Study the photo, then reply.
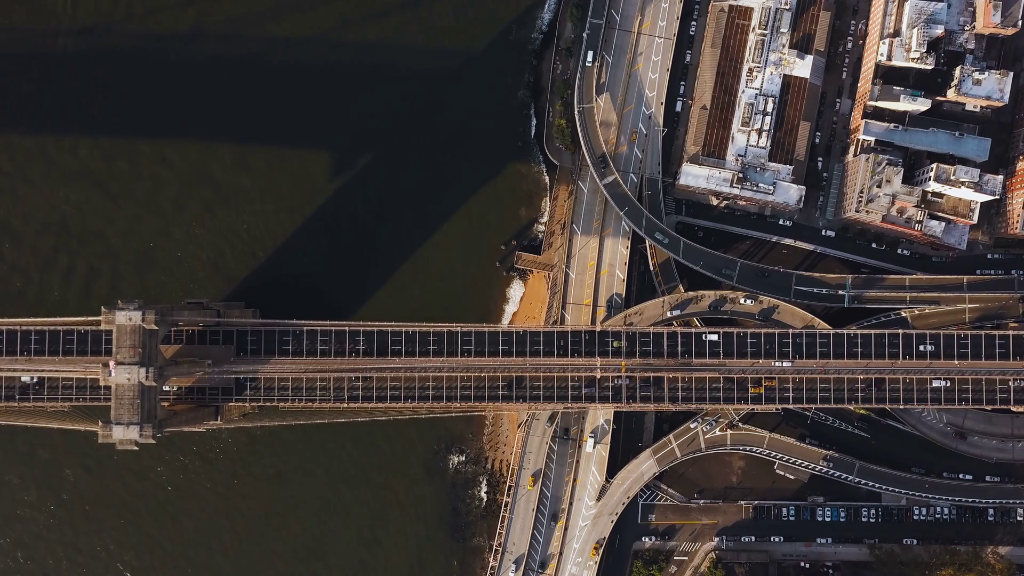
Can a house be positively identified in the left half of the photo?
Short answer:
No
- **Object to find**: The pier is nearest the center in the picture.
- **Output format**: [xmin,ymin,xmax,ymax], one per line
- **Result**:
[514,252,552,273]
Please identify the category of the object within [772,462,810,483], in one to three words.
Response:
shed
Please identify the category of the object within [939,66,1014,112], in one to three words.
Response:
house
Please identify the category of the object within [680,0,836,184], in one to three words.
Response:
building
